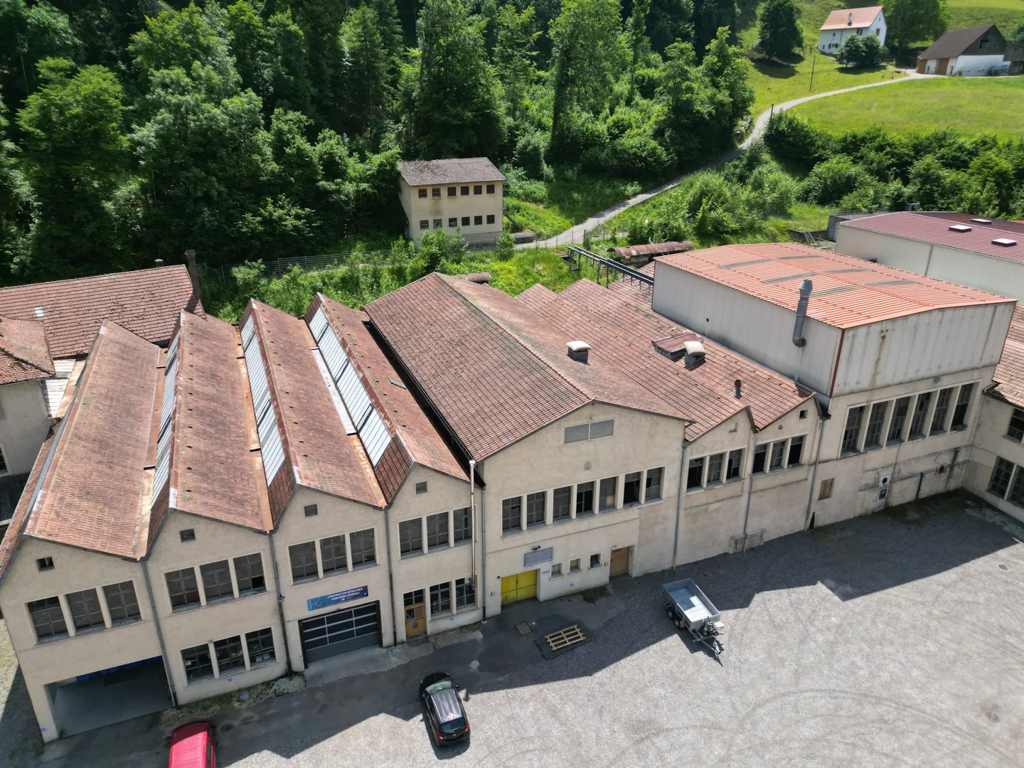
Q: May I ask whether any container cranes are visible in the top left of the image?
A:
No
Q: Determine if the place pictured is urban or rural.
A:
urban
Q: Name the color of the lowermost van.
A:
red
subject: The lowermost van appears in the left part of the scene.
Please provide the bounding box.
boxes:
[163,712,220,768]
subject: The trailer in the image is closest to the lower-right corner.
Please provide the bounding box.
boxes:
[661,578,727,663]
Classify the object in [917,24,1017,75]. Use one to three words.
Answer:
barn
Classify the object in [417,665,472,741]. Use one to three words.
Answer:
car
